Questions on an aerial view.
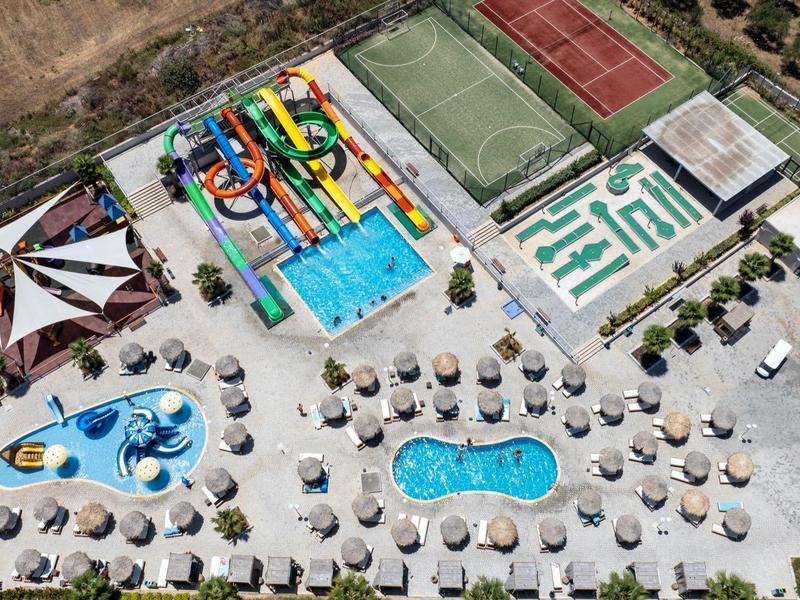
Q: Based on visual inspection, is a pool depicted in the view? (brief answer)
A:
Yes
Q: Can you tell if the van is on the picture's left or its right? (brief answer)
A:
right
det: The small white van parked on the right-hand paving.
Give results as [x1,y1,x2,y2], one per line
[755,340,792,380]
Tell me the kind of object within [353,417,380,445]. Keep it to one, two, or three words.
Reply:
umbrella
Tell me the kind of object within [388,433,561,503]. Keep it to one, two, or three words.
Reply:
swimming pool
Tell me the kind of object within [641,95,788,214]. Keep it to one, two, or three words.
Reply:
building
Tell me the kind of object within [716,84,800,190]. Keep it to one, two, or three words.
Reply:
sports court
